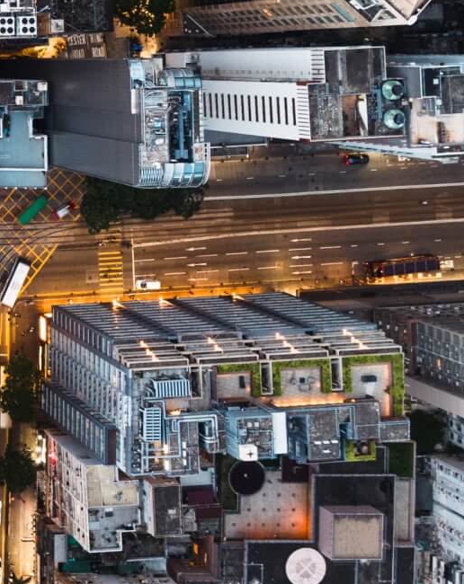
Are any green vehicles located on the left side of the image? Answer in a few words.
Yes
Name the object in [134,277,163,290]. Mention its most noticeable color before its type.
white vehicle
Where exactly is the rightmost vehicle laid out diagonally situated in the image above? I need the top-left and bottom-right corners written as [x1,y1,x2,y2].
[52,199,78,220]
